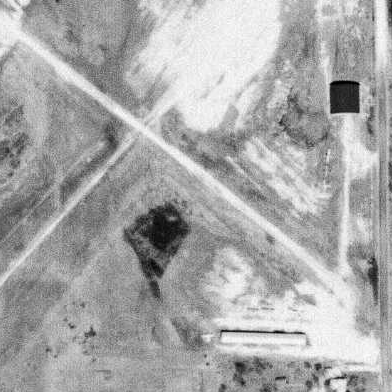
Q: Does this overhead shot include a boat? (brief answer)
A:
No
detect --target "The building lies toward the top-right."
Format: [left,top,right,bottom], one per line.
[331,84,360,114]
